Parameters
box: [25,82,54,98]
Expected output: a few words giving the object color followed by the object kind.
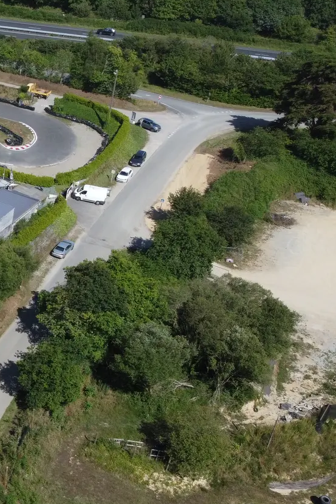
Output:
yellow vehicle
